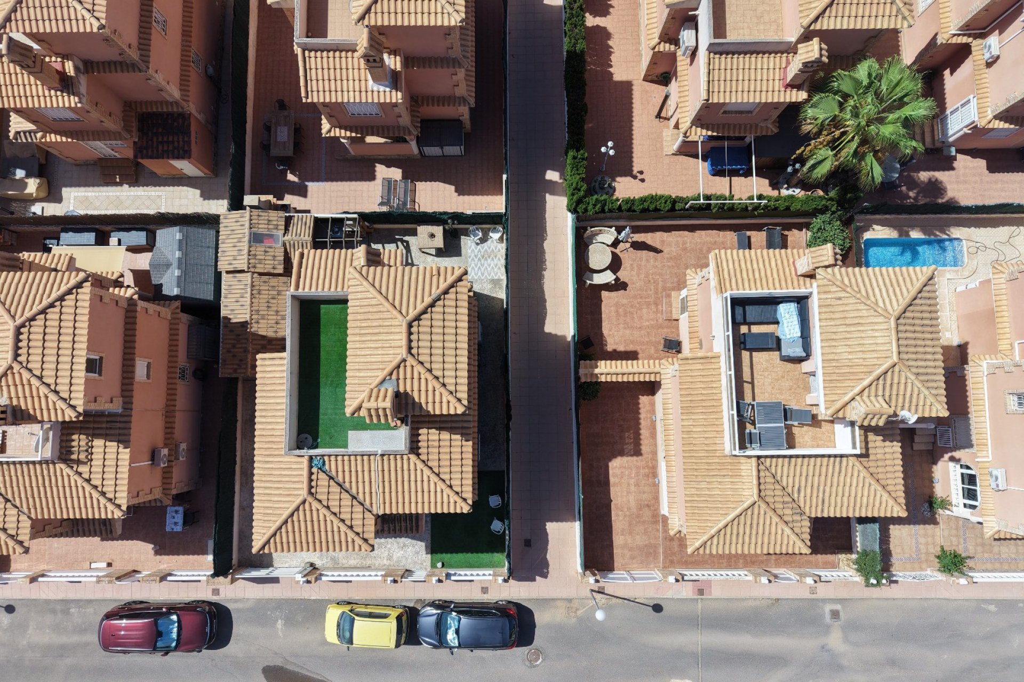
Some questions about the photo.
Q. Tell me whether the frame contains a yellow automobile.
Yes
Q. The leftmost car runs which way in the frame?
horizontally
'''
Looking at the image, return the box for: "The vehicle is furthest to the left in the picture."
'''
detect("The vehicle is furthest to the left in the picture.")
[96,602,221,662]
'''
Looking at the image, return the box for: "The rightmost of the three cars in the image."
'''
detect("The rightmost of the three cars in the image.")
[418,601,519,657]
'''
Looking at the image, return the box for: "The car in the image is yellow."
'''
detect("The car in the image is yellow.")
[327,602,411,654]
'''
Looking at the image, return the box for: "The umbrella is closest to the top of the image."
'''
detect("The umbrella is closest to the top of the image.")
[653,91,667,122]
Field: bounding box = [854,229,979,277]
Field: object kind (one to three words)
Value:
swimming pool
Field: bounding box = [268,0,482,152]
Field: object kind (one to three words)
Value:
house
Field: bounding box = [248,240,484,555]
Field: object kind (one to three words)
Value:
house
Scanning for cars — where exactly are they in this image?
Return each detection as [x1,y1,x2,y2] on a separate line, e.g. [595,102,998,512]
[327,602,411,654]
[418,601,519,657]
[96,602,221,662]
